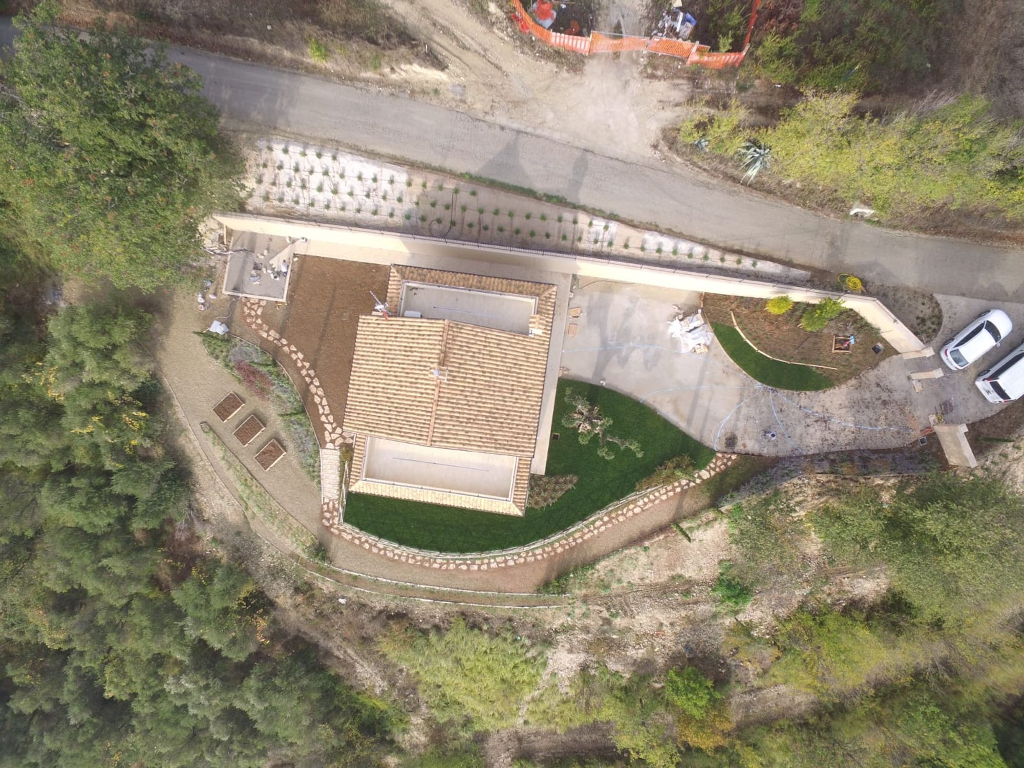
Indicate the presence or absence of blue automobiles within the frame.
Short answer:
No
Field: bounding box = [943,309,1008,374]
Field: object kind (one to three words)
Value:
car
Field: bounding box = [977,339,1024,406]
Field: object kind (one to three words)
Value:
van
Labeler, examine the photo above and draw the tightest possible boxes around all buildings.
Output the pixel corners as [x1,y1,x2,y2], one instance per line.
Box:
[341,263,558,517]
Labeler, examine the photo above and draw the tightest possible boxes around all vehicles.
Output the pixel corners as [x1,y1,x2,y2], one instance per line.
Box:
[943,309,1008,374]
[977,339,1024,406]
